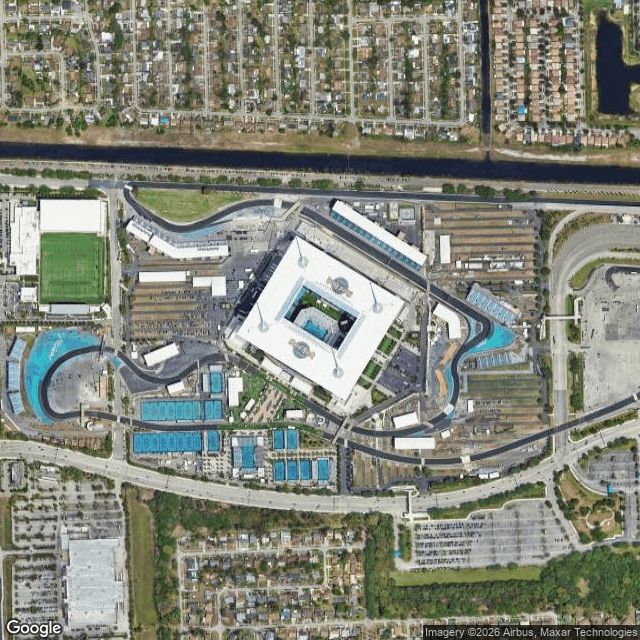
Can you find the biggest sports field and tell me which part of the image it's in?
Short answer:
left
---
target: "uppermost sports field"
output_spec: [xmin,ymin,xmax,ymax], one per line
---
[41,234,104,304]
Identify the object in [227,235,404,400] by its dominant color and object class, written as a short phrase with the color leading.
white stadium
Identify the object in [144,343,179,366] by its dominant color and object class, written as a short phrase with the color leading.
white tent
